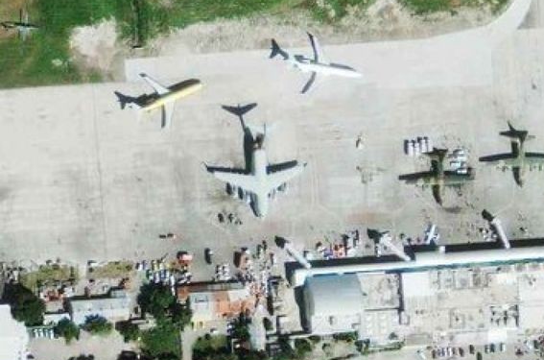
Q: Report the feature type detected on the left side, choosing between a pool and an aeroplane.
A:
aeroplane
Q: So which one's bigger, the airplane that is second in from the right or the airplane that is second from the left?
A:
the airplane that is second from the left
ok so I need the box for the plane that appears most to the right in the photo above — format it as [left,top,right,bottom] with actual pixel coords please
[488,133,544,186]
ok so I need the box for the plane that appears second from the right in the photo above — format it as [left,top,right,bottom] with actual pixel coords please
[406,152,474,204]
